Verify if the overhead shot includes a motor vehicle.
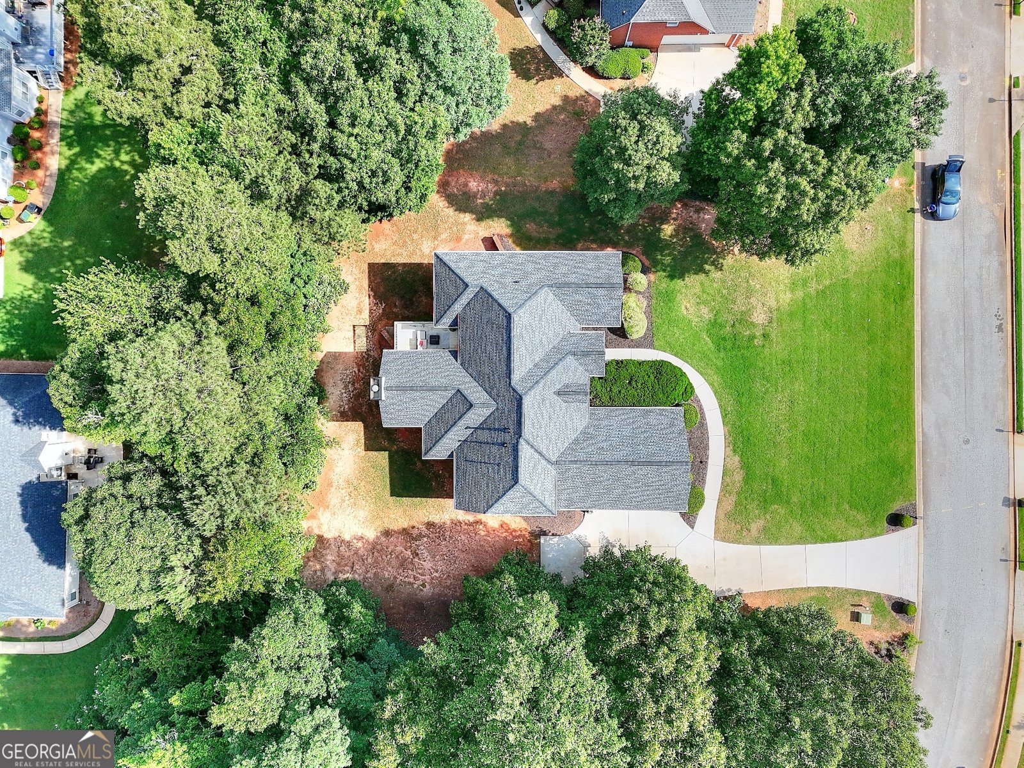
Yes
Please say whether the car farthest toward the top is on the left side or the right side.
right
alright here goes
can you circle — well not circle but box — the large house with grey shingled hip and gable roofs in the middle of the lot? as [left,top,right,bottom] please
[369,250,692,516]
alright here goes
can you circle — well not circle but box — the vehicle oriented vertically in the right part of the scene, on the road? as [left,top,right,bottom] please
[931,151,967,220]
